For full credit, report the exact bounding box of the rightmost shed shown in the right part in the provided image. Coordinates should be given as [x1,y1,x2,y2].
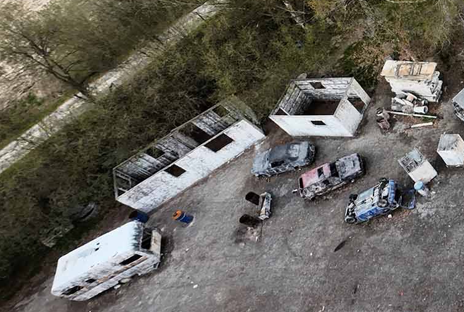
[269,77,369,136]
